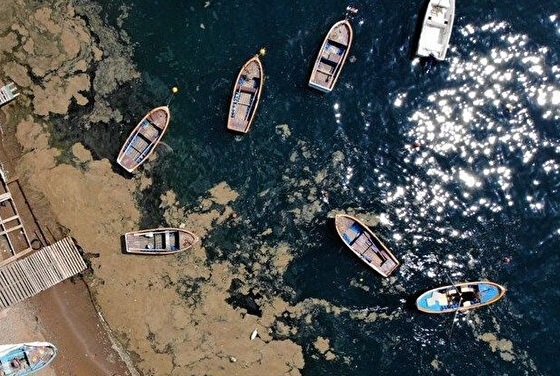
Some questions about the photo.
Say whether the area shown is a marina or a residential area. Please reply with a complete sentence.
What you see here is a marina.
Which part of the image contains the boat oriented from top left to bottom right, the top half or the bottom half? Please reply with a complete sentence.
It is in the bottom half that the boat oriented from top left to bottom right appears.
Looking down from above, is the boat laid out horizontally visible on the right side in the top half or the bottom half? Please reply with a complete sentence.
The bottom half of the photo is where the boat laid out horizontally visible on the right side is.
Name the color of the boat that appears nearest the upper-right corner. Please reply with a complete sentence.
From above, the boat that appears nearest the upper-right corner appears white.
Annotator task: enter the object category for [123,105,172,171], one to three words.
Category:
boat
